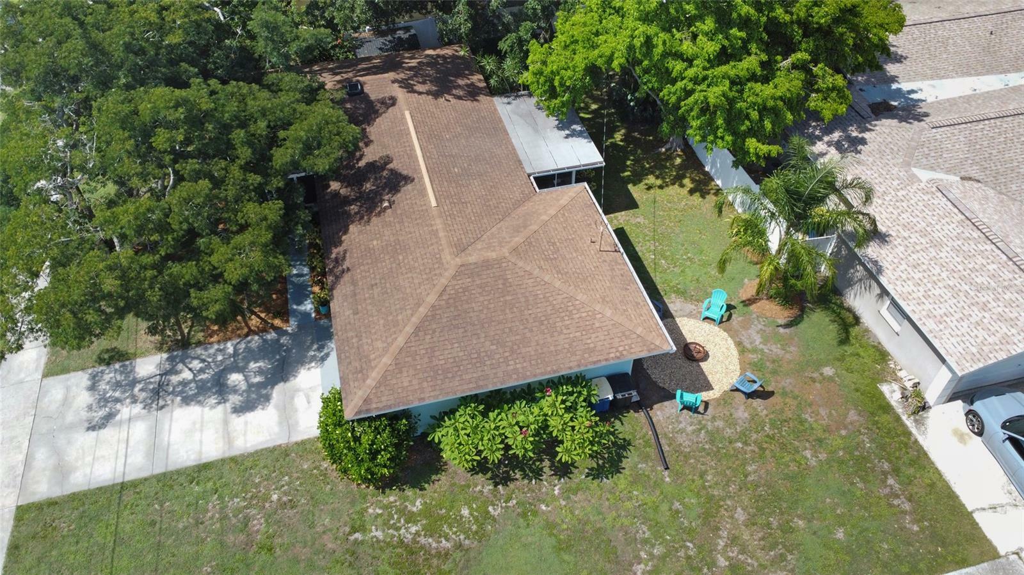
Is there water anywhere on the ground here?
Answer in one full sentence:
No, the picture contains no water.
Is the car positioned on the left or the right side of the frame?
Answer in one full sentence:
It is on the right.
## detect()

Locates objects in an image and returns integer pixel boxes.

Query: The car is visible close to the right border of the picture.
[955,379,1024,485]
